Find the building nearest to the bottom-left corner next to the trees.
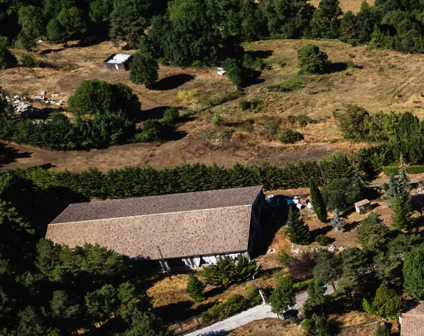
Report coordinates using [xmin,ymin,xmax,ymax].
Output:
[40,185,264,284]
